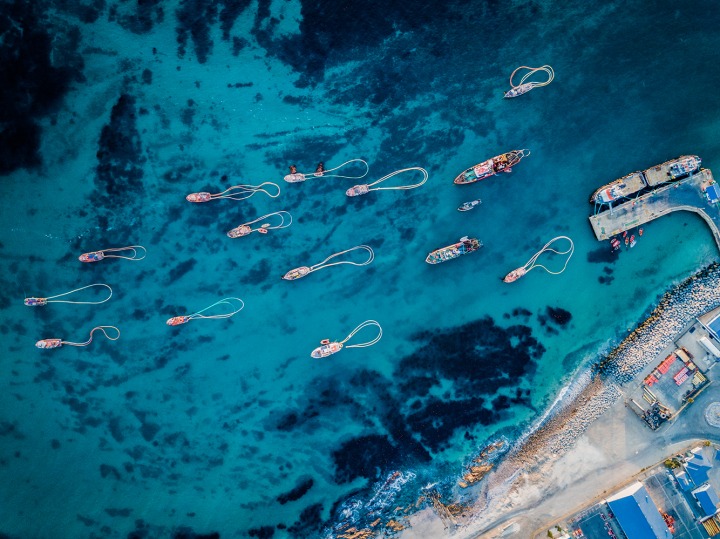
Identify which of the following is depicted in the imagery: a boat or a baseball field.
boat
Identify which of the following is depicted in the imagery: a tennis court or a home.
home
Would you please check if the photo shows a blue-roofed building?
Yes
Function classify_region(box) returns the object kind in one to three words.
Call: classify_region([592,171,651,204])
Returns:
ship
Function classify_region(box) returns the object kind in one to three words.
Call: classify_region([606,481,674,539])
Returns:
building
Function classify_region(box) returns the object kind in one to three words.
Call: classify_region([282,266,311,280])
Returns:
boat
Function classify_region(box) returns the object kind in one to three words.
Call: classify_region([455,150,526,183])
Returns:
boat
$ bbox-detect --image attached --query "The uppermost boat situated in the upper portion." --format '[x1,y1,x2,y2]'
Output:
[505,82,536,98]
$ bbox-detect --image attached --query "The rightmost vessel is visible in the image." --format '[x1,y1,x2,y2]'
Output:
[646,155,707,186]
